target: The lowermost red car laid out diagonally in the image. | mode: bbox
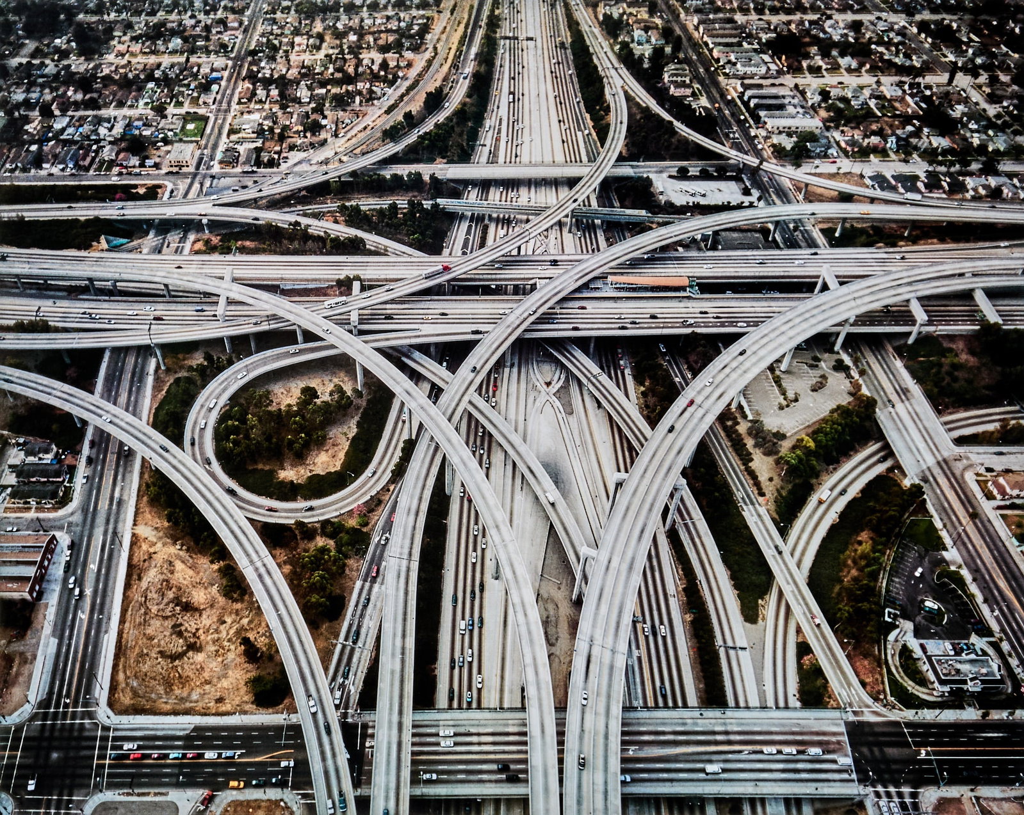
[199,792,212,806]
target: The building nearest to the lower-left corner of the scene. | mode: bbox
[0,526,54,602]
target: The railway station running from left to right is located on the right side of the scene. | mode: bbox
[566,277,701,296]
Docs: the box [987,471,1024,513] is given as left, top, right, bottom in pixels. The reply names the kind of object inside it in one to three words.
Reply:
house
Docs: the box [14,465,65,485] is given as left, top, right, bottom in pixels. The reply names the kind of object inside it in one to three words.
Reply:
house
